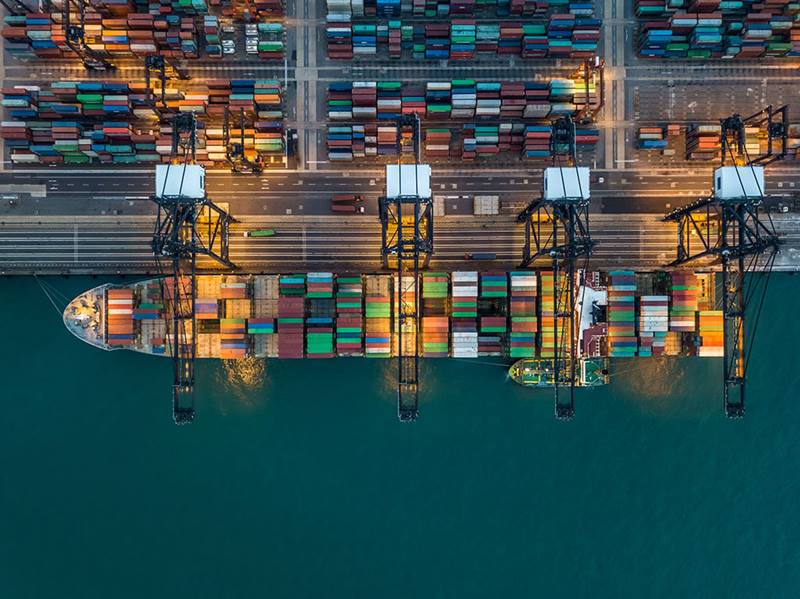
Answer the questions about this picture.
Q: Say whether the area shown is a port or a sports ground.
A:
port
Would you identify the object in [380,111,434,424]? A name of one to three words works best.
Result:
container crane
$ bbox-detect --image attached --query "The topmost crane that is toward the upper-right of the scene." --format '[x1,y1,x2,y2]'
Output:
[568,59,604,123]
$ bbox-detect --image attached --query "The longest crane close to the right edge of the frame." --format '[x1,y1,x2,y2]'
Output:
[662,111,785,424]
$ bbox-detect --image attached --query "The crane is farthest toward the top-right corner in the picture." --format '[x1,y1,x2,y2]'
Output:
[745,106,788,166]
